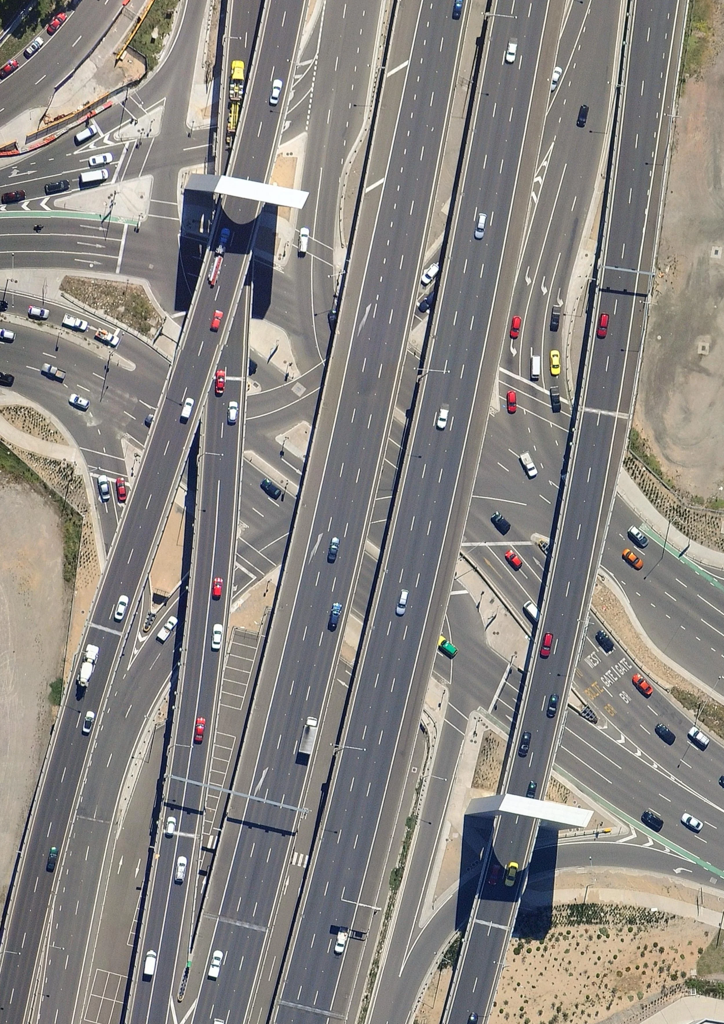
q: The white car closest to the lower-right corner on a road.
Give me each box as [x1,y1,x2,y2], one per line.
[681,813,703,834]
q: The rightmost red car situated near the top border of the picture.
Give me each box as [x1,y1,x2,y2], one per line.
[46,12,68,35]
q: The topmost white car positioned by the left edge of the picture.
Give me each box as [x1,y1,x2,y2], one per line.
[23,36,45,59]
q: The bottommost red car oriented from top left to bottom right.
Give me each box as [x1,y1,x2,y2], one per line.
[632,673,653,697]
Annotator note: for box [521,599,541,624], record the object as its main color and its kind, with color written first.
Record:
white vehicle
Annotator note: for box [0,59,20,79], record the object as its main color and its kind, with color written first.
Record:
red car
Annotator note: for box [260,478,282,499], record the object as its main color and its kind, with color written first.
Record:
black car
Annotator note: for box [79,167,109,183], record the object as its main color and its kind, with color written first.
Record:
white vehicle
